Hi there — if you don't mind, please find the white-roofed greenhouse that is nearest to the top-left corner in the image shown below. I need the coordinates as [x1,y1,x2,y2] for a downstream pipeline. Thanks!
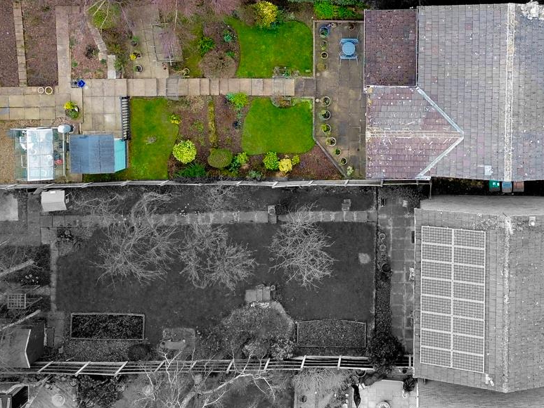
[26,129,66,181]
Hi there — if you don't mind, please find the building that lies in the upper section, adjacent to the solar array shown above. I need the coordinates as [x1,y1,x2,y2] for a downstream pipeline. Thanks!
[364,2,544,184]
